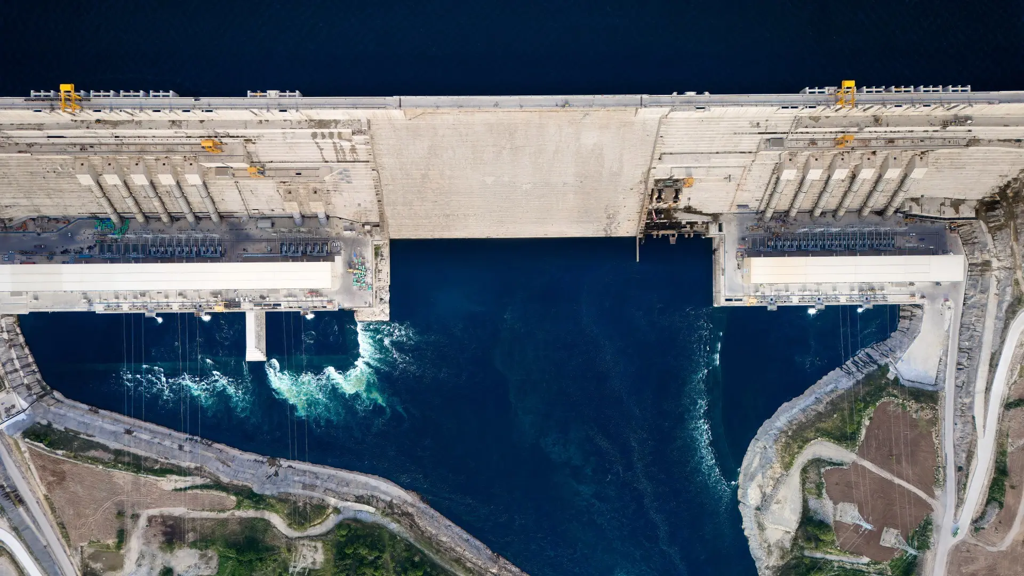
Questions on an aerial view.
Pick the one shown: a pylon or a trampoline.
pylon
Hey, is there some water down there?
Yes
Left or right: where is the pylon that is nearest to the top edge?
right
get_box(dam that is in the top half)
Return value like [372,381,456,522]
[0,91,1024,238]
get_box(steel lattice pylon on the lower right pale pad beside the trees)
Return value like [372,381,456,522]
[881,527,923,558]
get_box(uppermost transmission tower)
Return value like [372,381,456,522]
[836,503,876,532]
